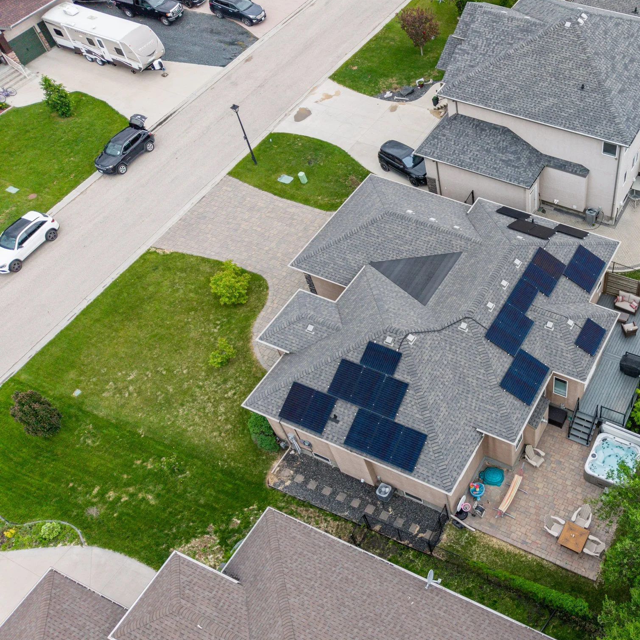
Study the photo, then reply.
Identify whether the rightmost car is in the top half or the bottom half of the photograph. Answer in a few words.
top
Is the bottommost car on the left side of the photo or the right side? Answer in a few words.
left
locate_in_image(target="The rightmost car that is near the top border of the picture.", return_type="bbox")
[207,0,266,26]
